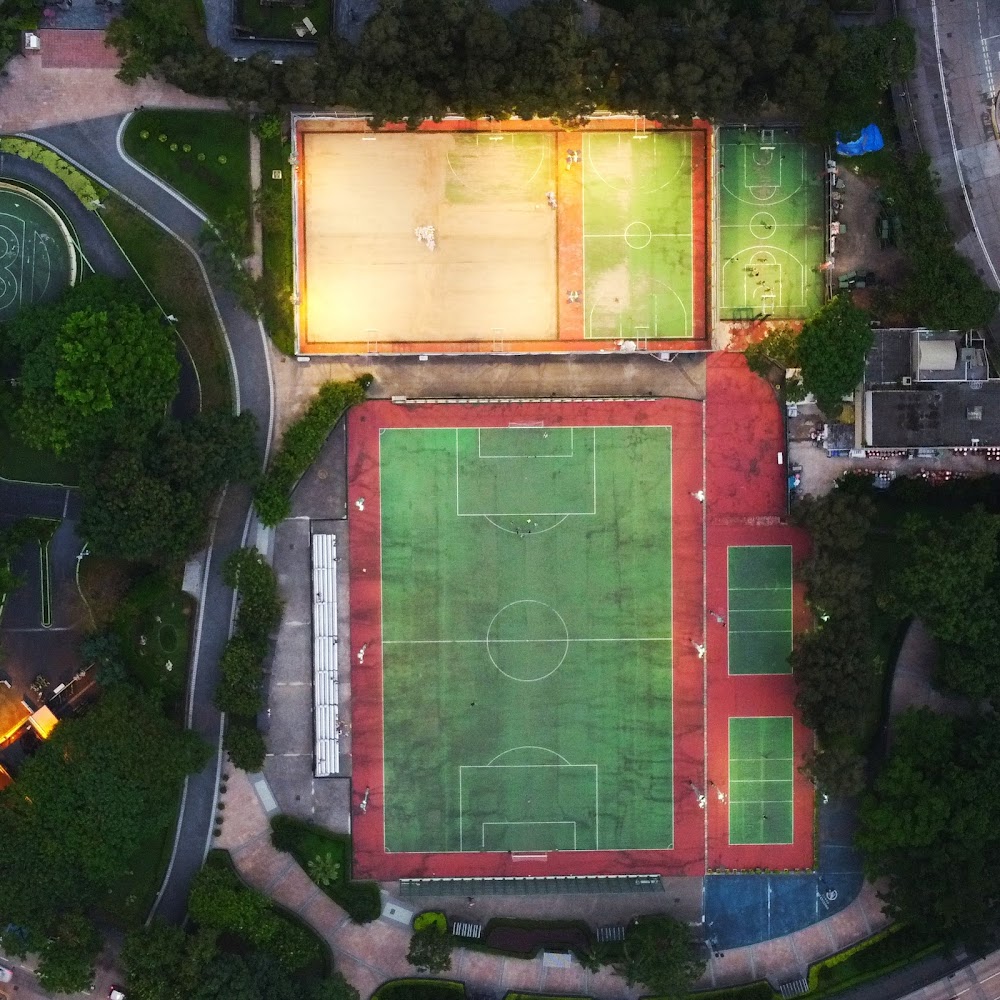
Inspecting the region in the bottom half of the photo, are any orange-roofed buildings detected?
Yes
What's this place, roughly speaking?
sports ground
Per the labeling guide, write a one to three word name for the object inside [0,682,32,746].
house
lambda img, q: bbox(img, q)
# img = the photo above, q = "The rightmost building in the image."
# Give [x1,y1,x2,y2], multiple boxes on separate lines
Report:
[855,327,1000,448]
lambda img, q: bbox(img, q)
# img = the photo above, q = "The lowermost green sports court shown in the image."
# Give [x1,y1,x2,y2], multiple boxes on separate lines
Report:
[729,716,794,846]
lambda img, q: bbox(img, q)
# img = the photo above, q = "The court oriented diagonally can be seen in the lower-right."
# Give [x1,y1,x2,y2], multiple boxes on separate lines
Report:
[706,797,864,950]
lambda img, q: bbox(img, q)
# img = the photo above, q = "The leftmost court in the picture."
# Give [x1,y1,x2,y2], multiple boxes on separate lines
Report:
[0,180,79,338]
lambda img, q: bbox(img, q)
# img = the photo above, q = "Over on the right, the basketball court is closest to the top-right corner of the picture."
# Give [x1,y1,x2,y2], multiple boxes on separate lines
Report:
[719,128,826,320]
